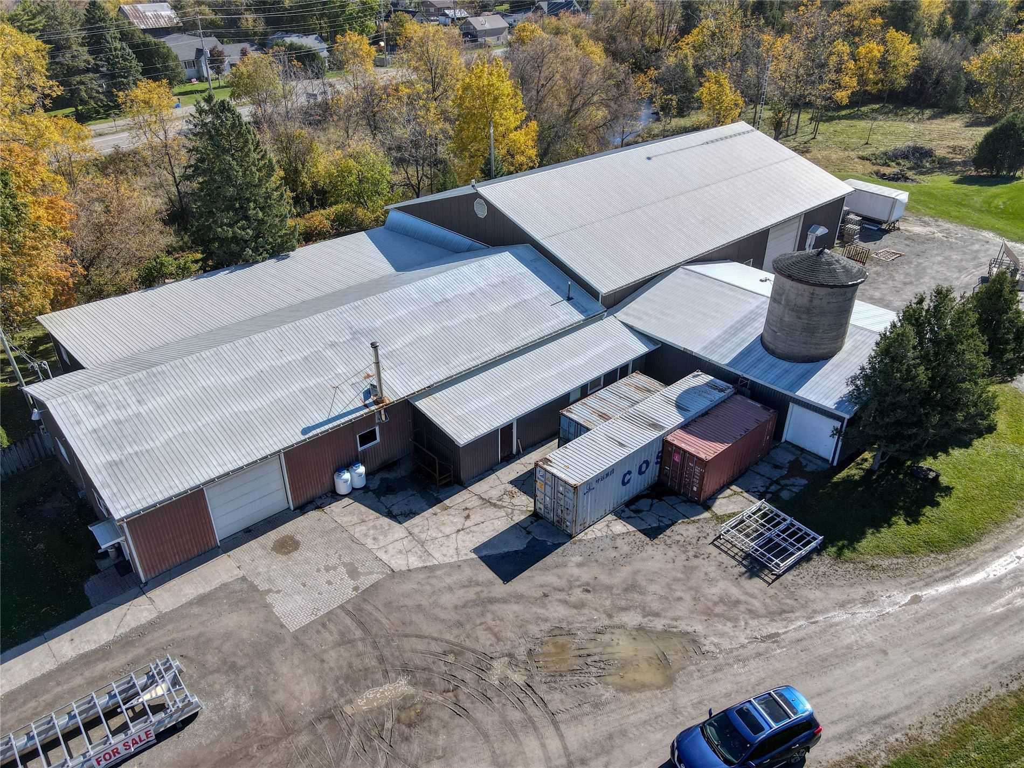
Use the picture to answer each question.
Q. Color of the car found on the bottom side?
blue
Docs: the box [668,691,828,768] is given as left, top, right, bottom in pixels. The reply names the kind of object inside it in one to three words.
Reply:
car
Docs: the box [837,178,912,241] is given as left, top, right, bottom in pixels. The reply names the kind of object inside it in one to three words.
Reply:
trailer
